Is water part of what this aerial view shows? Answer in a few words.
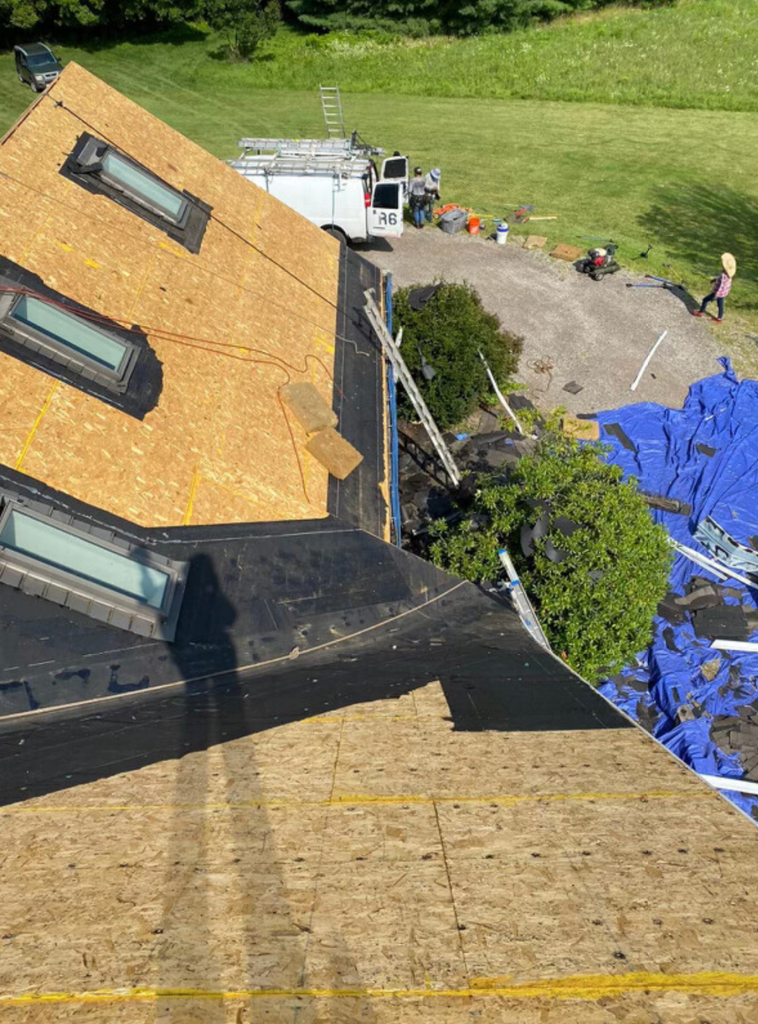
No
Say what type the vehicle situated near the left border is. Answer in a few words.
car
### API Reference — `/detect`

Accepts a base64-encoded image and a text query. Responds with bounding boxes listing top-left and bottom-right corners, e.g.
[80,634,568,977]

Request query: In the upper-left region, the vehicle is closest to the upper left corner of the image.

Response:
[14,41,66,97]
